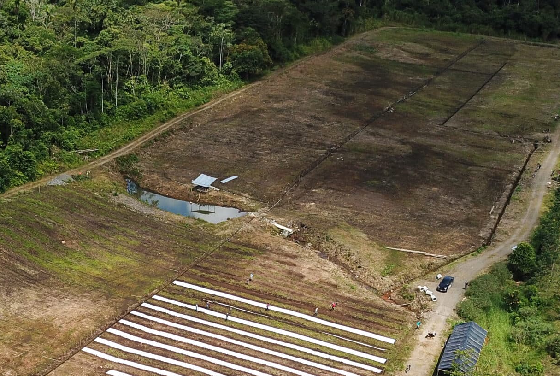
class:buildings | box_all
[192,174,228,198]
[439,322,489,374]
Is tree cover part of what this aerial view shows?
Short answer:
Yes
